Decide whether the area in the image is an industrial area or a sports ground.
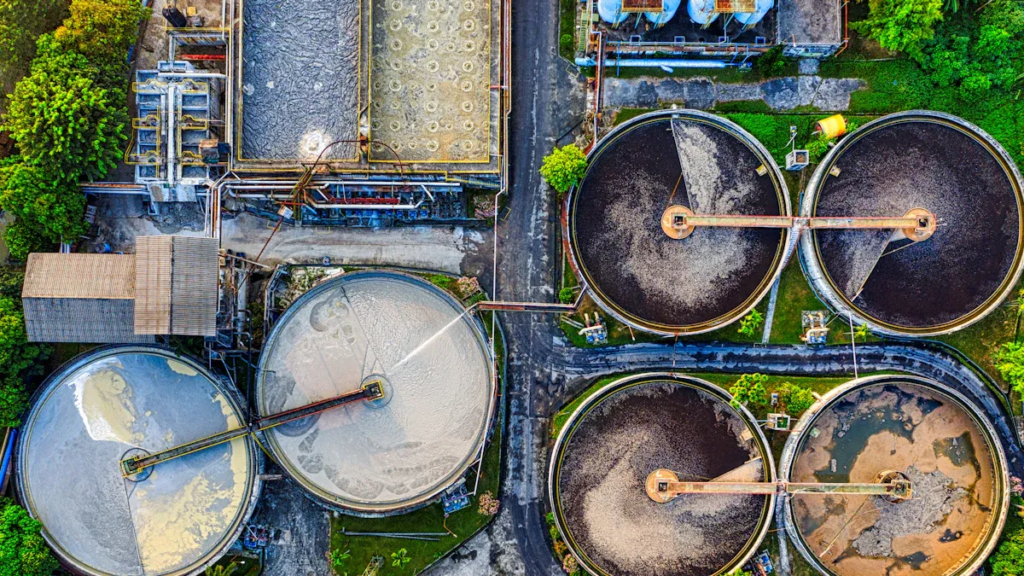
industrial area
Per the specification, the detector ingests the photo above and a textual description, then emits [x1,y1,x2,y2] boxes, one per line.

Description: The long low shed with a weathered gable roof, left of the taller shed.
[21,253,170,344]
